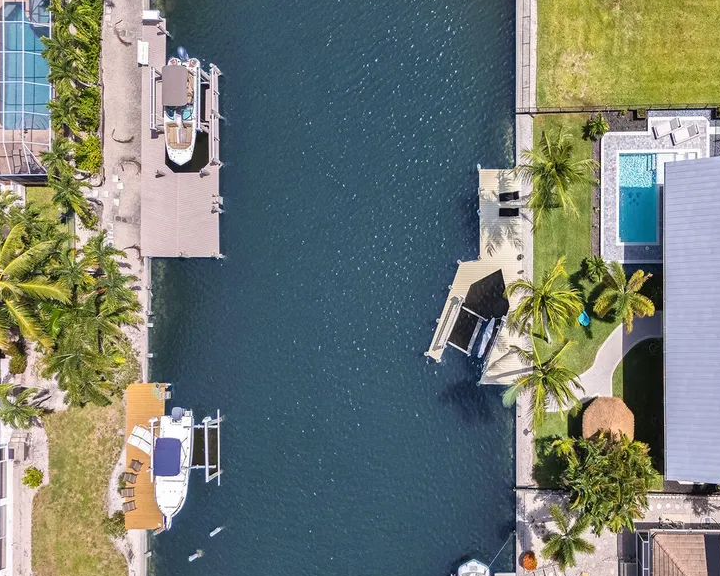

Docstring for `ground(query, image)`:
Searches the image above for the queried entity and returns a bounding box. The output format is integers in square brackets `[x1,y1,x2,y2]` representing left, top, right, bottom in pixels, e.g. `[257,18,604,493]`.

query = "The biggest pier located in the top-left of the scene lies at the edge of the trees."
[141,18,225,258]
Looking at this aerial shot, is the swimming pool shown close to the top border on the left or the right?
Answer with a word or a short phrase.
left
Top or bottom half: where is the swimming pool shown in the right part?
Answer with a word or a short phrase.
top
